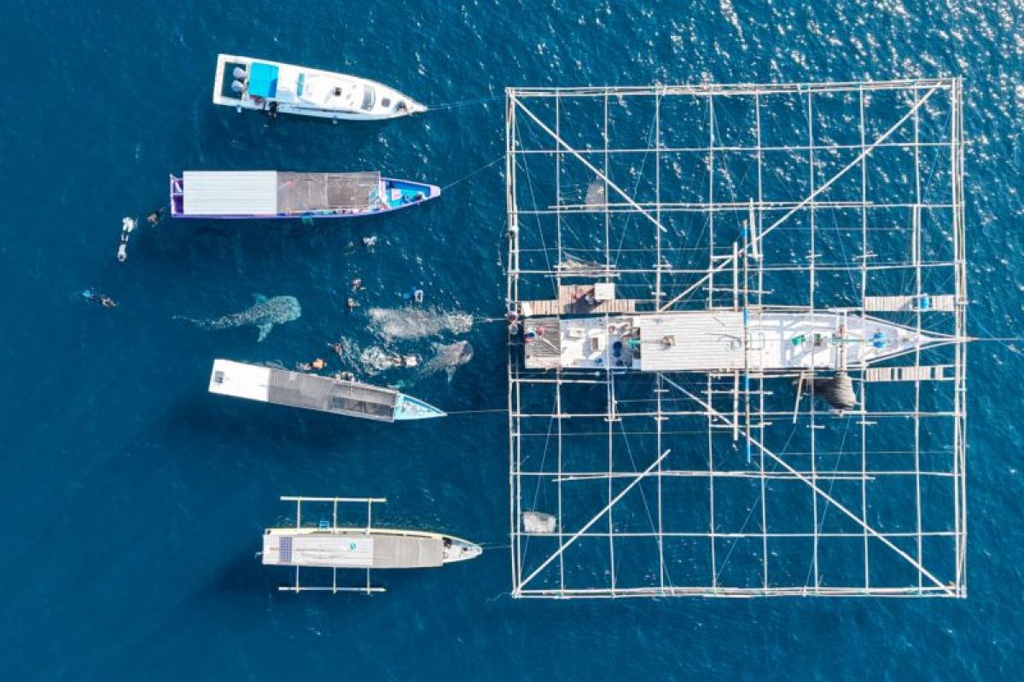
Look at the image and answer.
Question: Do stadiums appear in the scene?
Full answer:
No, the frame has no stadium in it.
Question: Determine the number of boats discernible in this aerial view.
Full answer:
My tally gives 4 boats in this view.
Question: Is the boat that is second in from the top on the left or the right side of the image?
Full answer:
It is on the left.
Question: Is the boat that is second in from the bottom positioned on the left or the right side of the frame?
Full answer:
It is on the left.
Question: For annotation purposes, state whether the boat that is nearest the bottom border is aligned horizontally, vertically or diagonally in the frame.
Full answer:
The boat that is nearest the bottom border has been laid out horizontally relative to the frame.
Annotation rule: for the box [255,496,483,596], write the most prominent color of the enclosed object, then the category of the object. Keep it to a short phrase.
white boat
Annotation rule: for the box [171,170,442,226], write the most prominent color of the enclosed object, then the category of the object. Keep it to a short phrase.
white boat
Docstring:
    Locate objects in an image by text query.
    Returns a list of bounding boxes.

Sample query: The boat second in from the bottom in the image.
[210,359,447,423]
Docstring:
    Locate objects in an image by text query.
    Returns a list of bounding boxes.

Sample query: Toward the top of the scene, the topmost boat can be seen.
[209,51,427,124]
